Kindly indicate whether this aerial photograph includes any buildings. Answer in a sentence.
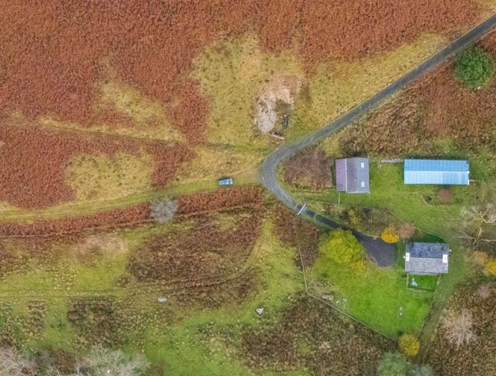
Yes, the picture does show a building.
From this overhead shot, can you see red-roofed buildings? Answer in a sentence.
No, no red-roofed building is visible in the scene.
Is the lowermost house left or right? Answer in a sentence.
You can find the lowermost house on the right side of the picture.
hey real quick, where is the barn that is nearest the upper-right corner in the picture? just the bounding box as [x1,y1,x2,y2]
[404,159,470,186]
